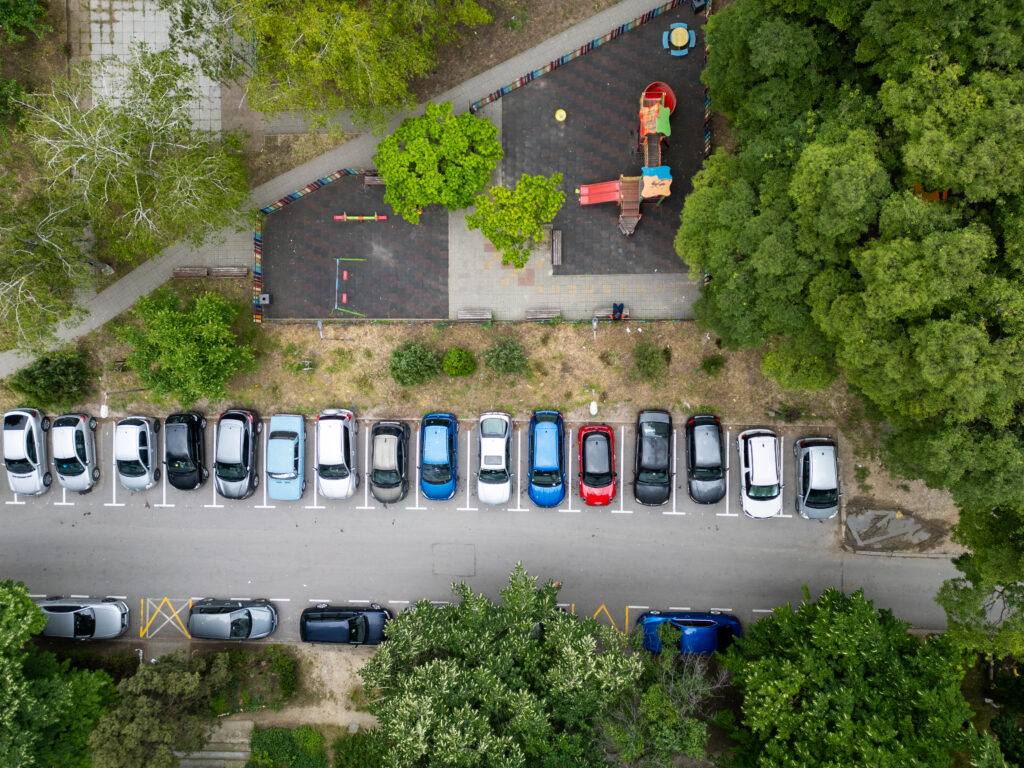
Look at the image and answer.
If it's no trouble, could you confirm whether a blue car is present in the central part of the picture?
Yes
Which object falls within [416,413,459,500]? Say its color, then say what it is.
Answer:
blue car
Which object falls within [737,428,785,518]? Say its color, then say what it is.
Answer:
white car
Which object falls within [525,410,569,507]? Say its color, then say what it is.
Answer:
blue car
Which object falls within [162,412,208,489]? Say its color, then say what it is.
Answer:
black car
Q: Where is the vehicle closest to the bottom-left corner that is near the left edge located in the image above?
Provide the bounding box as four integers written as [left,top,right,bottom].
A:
[37,597,130,644]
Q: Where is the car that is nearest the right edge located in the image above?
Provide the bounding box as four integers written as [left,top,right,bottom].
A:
[795,436,843,521]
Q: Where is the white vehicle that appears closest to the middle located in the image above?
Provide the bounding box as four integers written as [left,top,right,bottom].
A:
[473,412,515,505]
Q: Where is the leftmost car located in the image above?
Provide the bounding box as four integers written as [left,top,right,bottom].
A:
[1,408,52,495]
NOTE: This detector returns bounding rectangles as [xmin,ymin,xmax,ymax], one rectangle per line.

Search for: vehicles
[185,599,278,645]
[113,416,160,491]
[795,436,843,521]
[1,408,52,495]
[575,424,620,507]
[162,412,208,489]
[367,421,410,503]
[313,409,359,499]
[525,410,569,507]
[637,608,742,656]
[299,603,394,650]
[473,412,515,505]
[212,409,262,499]
[37,597,130,644]
[685,414,731,504]
[50,413,99,491]
[737,428,785,518]
[263,414,306,500]
[632,409,677,507]
[416,413,459,500]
